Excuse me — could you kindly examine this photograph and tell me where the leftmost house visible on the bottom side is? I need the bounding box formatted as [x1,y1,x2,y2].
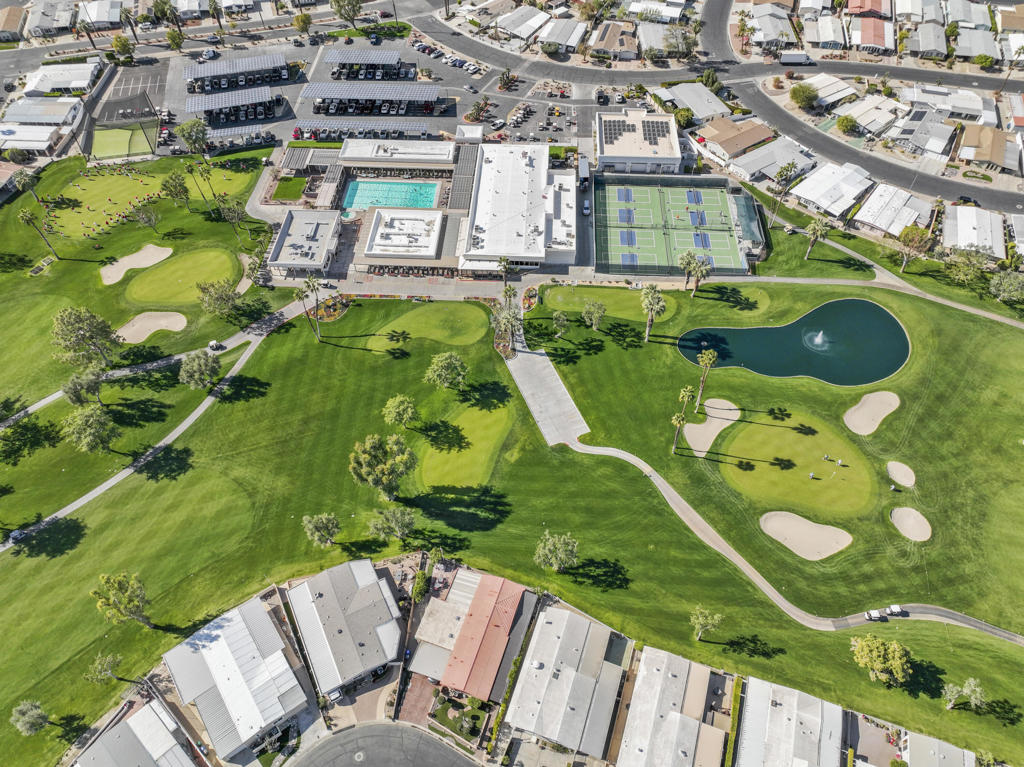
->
[77,700,194,767]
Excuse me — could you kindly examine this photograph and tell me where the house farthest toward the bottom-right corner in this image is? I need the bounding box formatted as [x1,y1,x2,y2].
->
[902,731,975,767]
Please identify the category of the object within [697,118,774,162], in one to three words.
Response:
house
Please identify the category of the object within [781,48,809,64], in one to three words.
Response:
vehicle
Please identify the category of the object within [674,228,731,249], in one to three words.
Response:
sports court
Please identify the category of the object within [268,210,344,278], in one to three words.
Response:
building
